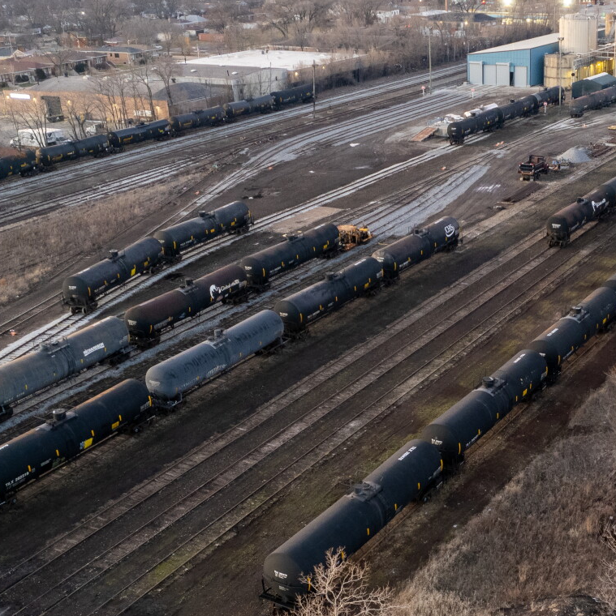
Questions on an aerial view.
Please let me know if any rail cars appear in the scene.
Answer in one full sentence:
Yes, this view includes a rail car.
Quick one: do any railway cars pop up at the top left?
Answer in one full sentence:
Yes, a railway car can be seen at the top left.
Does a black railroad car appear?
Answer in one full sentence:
Yes, you can see a black railroad car in this photo.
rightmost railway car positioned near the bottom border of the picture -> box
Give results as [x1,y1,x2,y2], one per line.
[262,440,447,615]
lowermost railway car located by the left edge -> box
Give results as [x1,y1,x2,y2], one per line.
[0,379,168,508]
